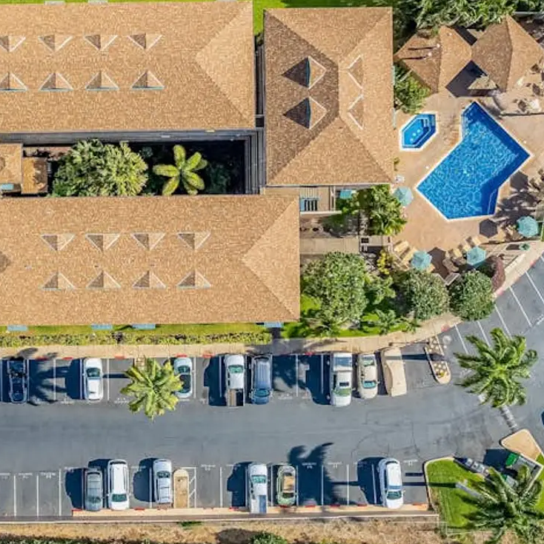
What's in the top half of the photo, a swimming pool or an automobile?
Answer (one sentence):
Looking in the top half of the photo, you will find a swimming pool.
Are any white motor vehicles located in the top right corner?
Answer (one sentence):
No, I see no white motor vehicle in the top right corner.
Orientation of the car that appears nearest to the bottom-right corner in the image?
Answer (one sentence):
I'd say the car that appears nearest to the bottom-right corner is aligned up and down in the picture.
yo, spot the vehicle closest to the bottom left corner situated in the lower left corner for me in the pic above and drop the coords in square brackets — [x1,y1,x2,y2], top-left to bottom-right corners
[82,468,105,510]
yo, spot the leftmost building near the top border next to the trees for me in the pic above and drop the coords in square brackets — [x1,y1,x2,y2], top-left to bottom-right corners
[0,0,256,145]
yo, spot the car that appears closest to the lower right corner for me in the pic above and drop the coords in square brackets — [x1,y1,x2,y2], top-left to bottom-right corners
[375,456,404,508]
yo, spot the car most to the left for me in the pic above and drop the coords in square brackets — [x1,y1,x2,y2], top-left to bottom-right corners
[7,358,29,403]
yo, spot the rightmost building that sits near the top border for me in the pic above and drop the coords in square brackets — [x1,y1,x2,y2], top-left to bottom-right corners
[470,17,544,95]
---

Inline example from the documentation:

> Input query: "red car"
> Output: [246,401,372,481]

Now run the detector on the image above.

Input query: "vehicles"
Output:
[274,464,299,507]
[355,353,380,398]
[7,358,29,403]
[106,457,132,509]
[222,354,247,406]
[81,356,104,399]
[82,468,105,510]
[245,461,270,514]
[328,351,354,406]
[375,456,404,508]
[249,355,273,404]
[152,458,174,503]
[172,356,194,397]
